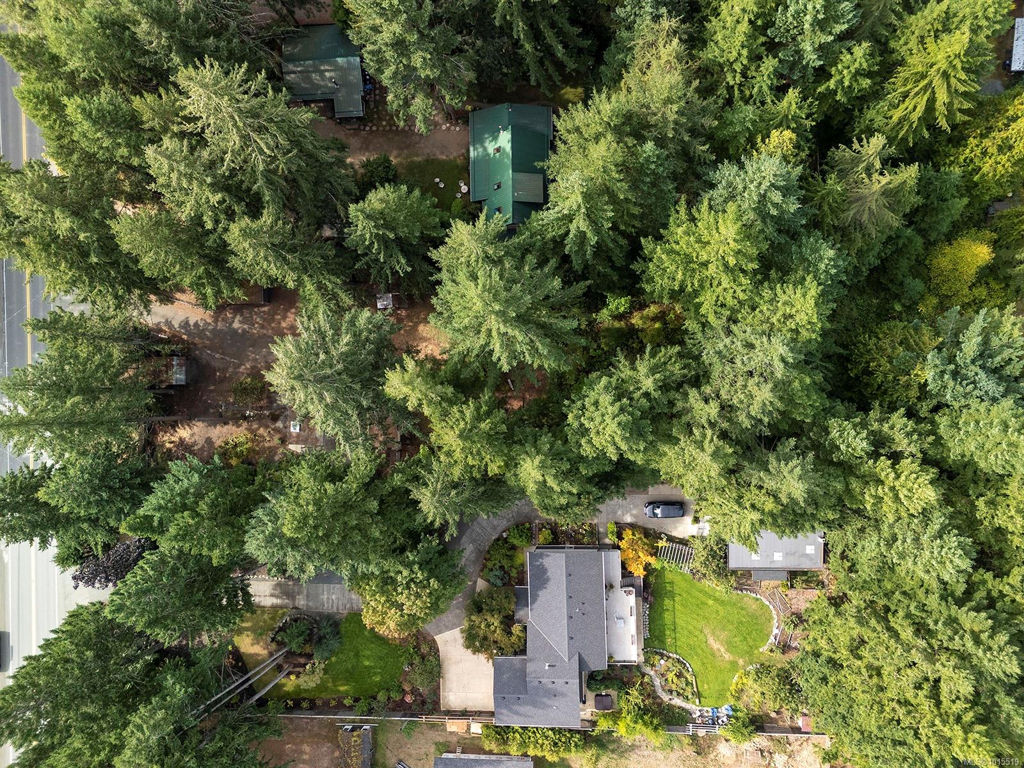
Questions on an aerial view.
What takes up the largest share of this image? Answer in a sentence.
The largest share of the image is taken up by trees.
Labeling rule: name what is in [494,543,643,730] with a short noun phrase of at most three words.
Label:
house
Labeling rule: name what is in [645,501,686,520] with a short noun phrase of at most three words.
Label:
vehicle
